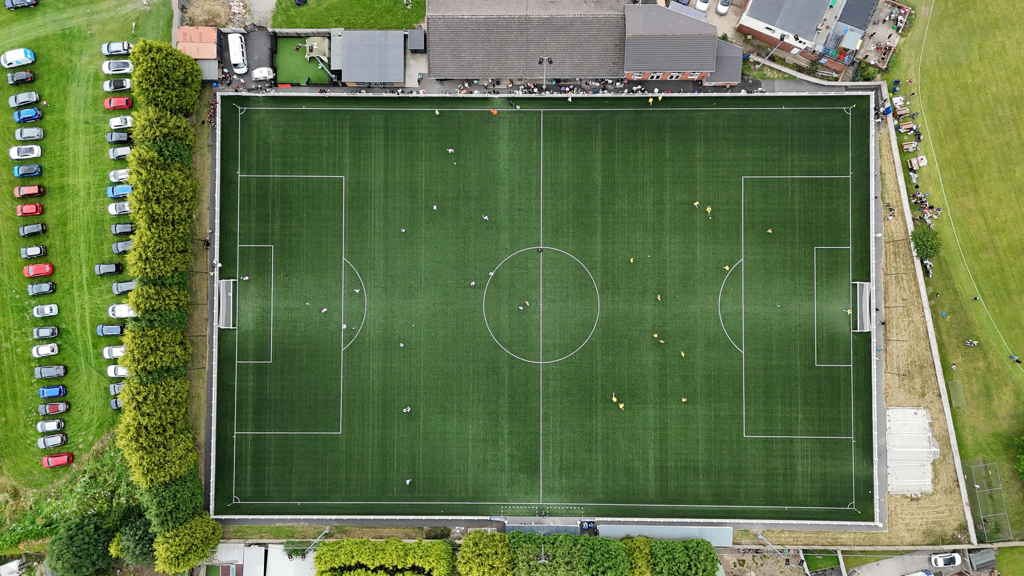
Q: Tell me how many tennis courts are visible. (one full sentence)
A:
There are no tennis courts in this view.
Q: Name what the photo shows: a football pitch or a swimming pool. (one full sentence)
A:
The image shows a football pitch.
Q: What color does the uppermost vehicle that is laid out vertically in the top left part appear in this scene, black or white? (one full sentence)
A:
In this view, the uppermost vehicle that is laid out vertically in the top left part is white.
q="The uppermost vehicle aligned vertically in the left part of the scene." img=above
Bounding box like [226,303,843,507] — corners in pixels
[227,33,250,76]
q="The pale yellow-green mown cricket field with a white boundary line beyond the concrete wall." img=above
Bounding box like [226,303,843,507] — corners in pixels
[885,0,1024,544]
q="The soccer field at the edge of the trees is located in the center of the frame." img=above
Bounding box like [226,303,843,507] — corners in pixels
[215,95,875,522]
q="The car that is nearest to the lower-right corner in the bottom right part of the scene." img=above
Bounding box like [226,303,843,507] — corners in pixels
[929,553,961,568]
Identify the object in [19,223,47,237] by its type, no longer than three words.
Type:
car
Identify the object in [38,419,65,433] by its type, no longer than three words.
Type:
car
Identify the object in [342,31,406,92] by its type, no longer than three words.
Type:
building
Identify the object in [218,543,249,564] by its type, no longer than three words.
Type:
shed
